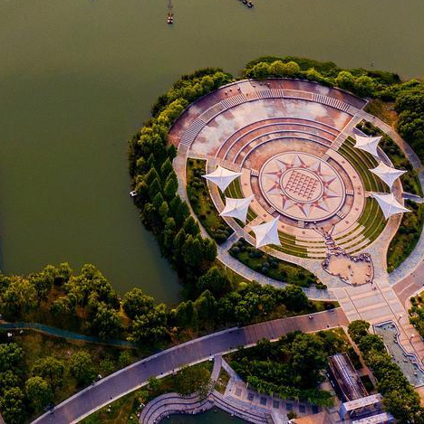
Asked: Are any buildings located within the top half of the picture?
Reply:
No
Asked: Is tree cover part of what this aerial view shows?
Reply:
Yes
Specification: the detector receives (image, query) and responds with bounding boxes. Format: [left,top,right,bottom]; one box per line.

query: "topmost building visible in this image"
[321,355,366,412]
